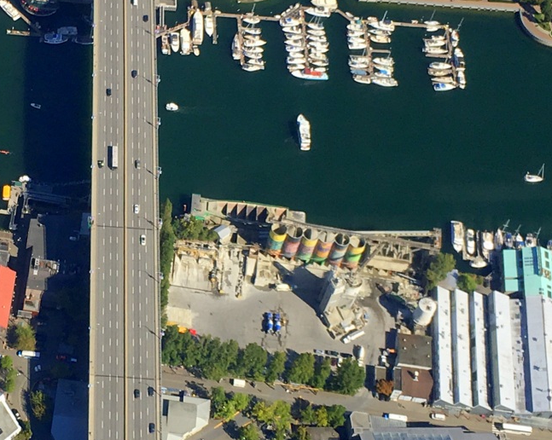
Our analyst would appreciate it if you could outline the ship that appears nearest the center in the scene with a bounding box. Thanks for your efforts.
[296,111,312,152]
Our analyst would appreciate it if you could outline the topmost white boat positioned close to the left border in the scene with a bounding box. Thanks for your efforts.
[0,0,23,21]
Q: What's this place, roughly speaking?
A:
port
